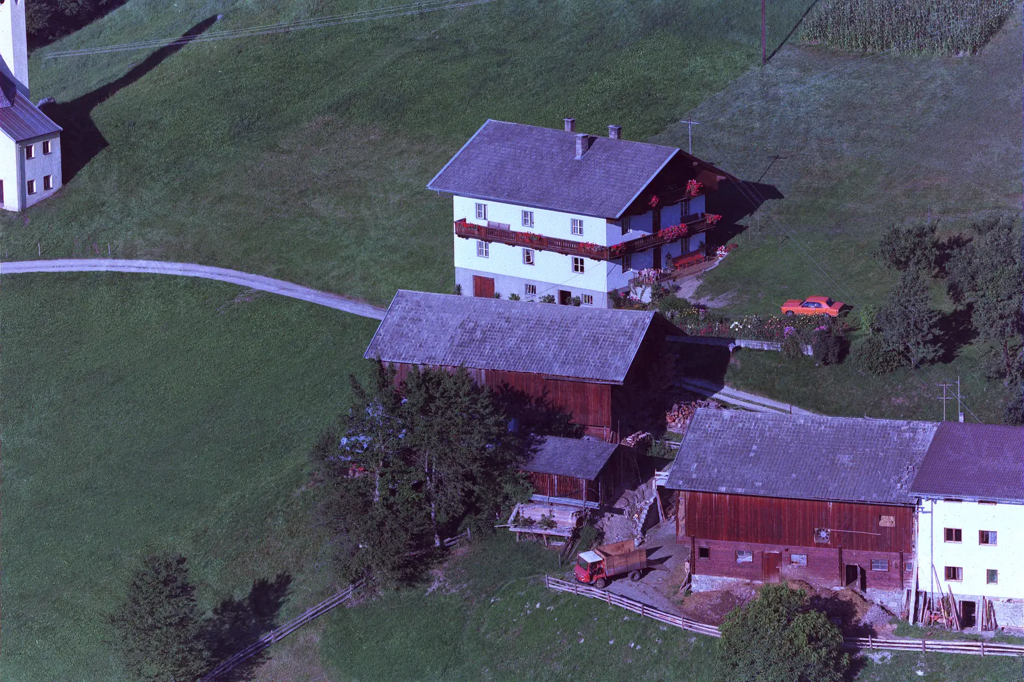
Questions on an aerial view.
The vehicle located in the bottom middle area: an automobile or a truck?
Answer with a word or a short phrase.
truck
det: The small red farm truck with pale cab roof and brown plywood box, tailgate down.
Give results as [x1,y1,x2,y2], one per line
[574,539,658,588]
